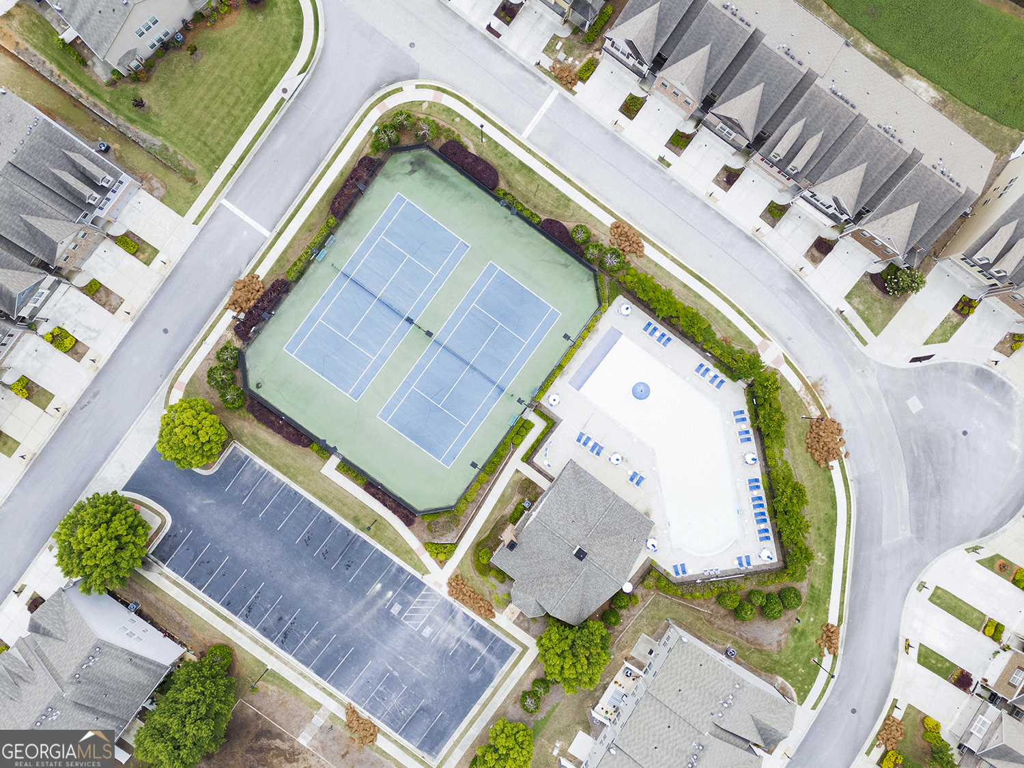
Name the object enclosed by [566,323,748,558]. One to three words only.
swimming pool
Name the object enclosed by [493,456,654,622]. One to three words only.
building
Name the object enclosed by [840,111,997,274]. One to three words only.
house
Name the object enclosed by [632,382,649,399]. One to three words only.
fountain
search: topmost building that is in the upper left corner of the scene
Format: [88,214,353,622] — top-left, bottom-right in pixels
[47,0,217,76]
